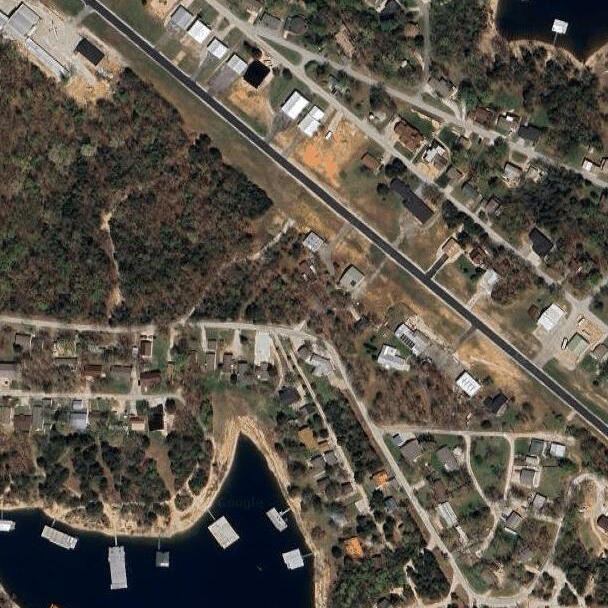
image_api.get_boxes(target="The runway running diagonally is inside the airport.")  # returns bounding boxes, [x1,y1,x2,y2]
[83,0,608,436]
